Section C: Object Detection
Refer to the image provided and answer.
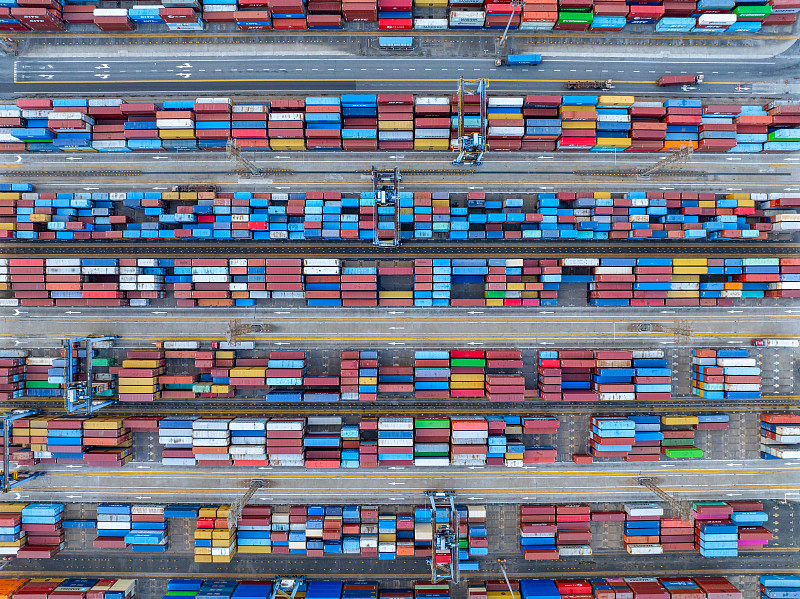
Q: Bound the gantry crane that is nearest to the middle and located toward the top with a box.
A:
[365,166,408,250]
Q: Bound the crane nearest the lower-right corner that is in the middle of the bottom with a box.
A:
[419,490,462,590]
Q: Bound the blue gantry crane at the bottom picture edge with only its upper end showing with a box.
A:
[267,573,312,599]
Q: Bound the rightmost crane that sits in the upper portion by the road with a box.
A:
[445,77,488,167]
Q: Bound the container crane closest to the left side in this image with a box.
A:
[0,408,54,505]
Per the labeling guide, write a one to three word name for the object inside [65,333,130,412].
container crane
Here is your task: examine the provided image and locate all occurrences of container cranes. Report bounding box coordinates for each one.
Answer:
[419,490,462,590]
[65,333,130,412]
[365,166,408,250]
[267,573,312,599]
[445,77,488,167]
[0,408,54,505]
